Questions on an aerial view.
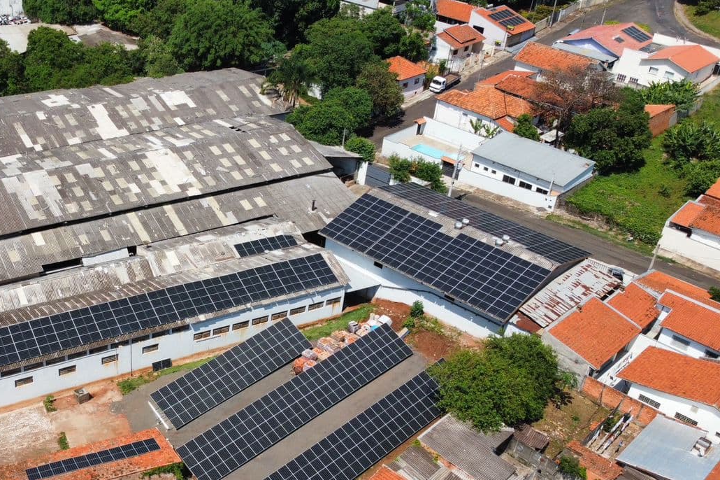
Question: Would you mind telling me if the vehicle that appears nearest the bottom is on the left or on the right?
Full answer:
The vehicle that appears nearest the bottom sits on the right side.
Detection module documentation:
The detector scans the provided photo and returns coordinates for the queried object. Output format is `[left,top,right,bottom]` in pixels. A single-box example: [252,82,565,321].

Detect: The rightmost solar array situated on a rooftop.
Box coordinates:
[622,26,651,42]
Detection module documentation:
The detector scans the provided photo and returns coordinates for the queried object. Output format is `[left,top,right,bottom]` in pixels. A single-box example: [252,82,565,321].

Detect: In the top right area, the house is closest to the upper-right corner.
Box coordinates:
[645,46,719,89]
